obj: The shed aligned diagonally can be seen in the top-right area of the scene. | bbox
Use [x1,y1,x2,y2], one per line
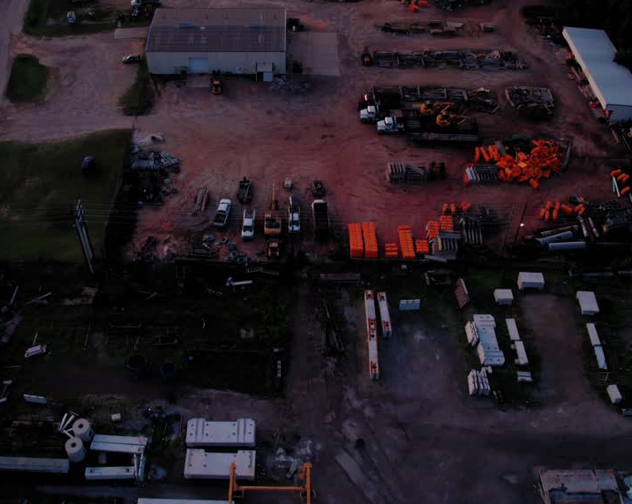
[555,29,632,125]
